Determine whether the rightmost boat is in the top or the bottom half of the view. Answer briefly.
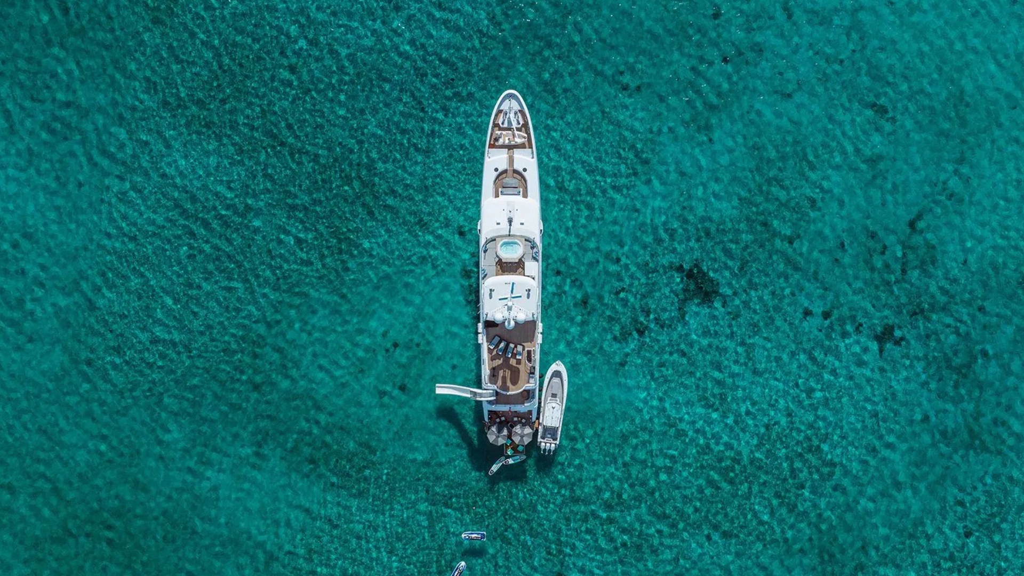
bottom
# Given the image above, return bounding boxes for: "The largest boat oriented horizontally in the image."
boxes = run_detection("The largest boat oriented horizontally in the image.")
[494,131,527,145]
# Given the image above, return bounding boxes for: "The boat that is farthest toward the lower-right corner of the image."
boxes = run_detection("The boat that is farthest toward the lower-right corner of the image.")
[538,360,568,454]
